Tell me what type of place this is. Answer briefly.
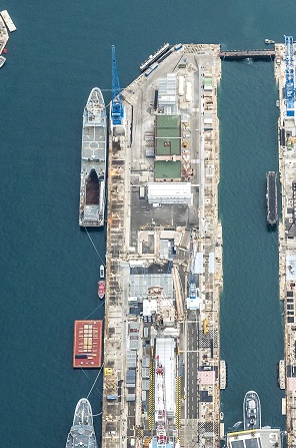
port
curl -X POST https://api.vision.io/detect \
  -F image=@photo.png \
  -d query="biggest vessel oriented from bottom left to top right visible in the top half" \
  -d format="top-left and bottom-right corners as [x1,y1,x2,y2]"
[141,45,169,71]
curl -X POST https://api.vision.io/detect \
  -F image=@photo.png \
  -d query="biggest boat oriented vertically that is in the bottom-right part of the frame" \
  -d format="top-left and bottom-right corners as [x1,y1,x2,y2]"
[242,391,261,431]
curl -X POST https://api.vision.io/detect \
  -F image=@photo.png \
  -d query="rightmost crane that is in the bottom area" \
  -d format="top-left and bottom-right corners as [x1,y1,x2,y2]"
[184,232,201,317]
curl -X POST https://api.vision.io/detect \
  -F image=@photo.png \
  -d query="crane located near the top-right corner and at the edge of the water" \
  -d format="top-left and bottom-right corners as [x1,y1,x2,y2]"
[284,39,296,119]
